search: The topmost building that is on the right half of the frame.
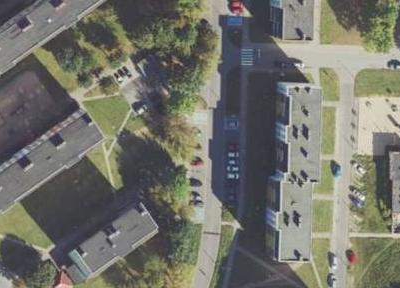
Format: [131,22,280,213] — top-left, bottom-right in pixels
[269,0,314,40]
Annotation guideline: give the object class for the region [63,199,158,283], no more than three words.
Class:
building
